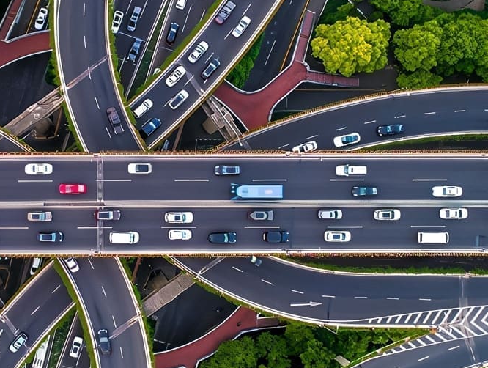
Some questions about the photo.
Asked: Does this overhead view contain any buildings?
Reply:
No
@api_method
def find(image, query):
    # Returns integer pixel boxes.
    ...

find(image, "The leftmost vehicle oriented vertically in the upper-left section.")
[34,7,47,31]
